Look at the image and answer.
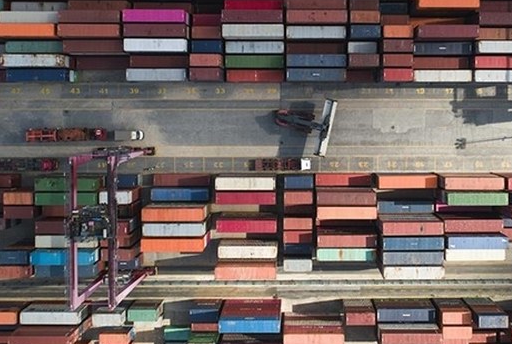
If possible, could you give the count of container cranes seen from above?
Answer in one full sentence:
There is 1 container crane in the image.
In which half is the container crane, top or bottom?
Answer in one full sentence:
The container crane is in the bottom half of the image.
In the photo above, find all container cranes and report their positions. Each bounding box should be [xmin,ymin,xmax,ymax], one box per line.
[60,147,164,308]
